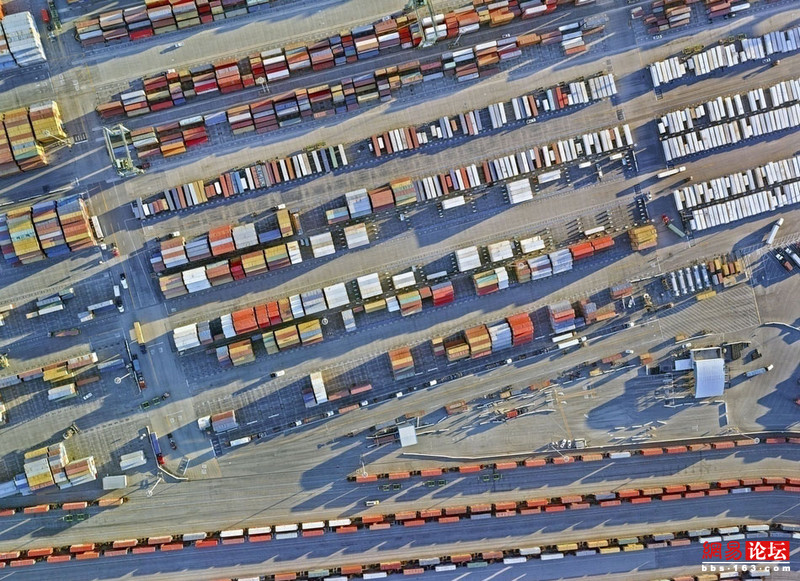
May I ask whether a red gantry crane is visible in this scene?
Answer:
No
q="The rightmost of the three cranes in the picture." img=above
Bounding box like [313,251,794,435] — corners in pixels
[406,0,441,53]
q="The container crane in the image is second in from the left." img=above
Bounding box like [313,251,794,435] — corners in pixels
[102,122,148,179]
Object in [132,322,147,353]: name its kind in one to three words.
vehicle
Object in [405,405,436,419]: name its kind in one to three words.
vehicle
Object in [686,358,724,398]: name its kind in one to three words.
building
